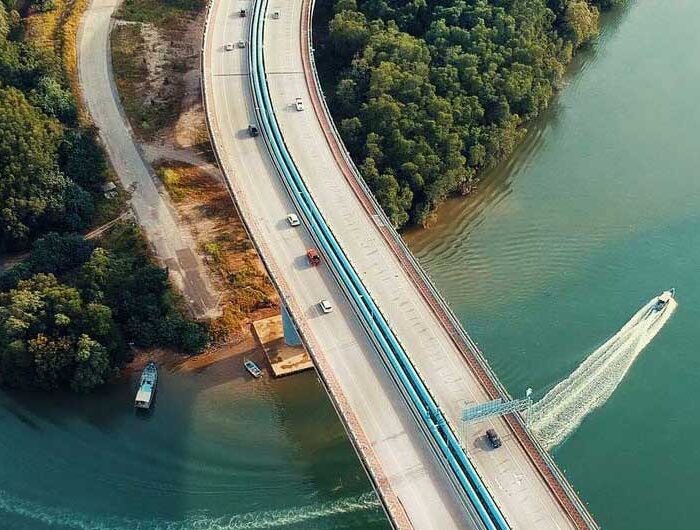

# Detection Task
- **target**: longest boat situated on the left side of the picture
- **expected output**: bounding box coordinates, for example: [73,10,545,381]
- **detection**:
[137,359,155,409]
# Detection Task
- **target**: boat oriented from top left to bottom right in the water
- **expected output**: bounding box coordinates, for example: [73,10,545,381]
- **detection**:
[246,354,262,377]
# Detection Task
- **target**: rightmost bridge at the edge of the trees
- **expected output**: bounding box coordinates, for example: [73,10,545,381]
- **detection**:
[200,0,606,530]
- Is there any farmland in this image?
No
